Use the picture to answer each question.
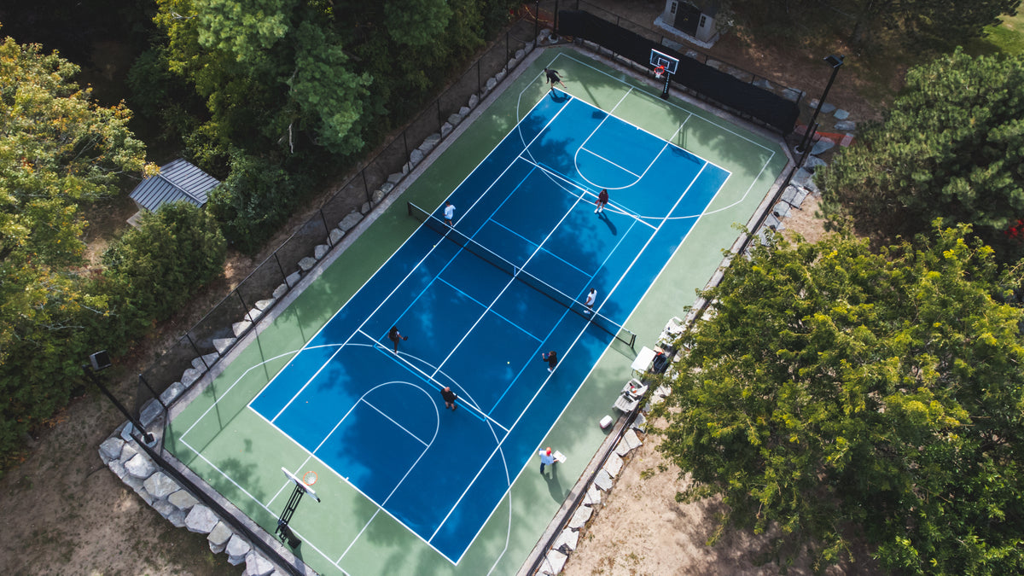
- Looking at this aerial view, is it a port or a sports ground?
sports ground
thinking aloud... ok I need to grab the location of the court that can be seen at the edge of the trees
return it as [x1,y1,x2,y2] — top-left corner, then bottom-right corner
[158,48,793,576]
